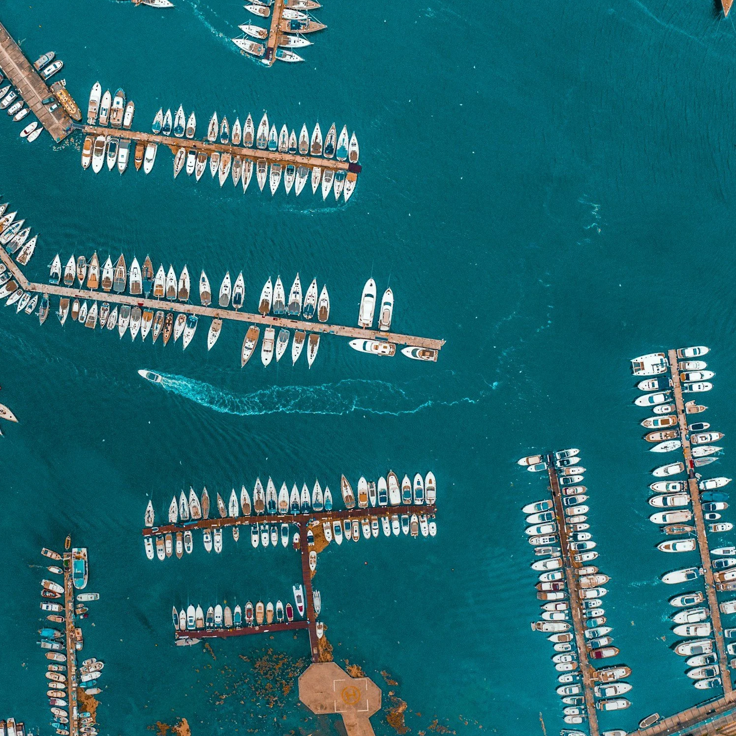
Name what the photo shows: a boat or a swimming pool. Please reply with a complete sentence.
There is a boat in the scene.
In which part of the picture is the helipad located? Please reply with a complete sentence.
The helipad sits in the bottom section of the image.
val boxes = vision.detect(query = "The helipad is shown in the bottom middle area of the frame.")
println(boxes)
[298,662,382,736]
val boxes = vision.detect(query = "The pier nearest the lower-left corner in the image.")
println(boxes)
[64,552,78,736]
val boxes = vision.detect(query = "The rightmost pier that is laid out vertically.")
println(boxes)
[668,349,732,695]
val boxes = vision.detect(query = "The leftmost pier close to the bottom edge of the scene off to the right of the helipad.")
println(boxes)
[547,454,597,736]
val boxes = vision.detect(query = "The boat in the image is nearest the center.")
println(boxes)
[348,339,399,359]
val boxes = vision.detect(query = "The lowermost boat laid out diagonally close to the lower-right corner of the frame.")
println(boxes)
[640,712,662,728]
